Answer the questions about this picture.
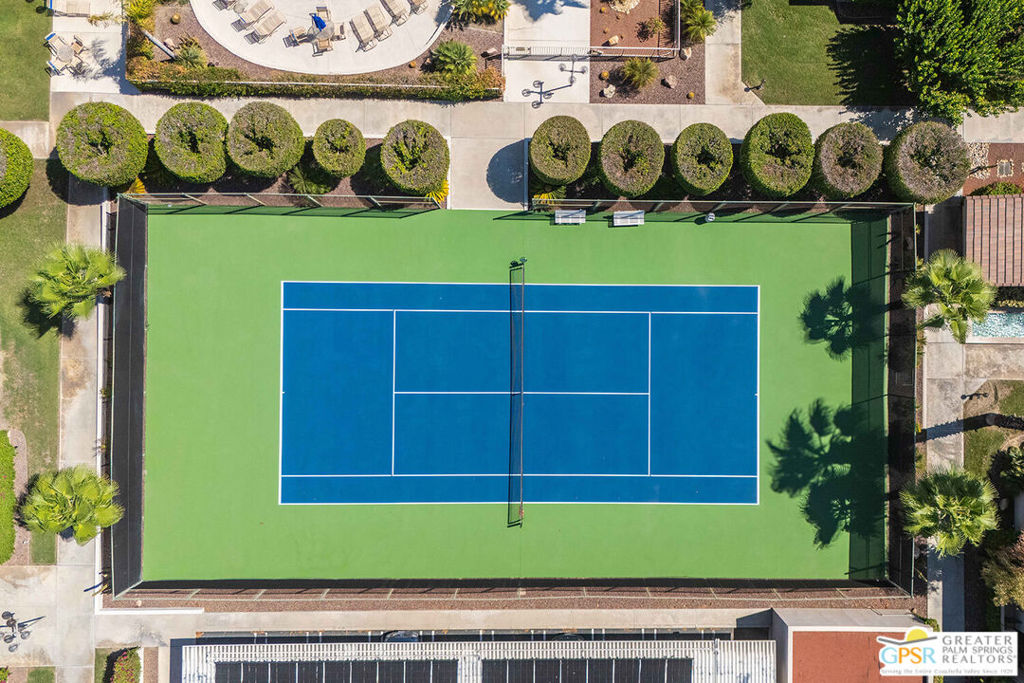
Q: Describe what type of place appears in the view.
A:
sports ground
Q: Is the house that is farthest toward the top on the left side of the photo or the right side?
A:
right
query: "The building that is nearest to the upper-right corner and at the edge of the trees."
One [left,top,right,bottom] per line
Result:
[941,195,1024,287]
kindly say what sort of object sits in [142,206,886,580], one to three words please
tennis court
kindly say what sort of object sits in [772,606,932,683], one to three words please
building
